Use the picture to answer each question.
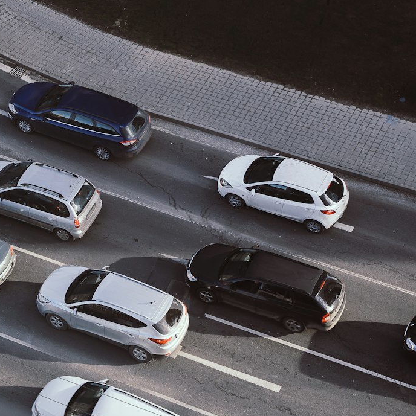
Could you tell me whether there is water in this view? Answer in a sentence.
No, the picture contains no water.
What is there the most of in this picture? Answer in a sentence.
Most of the picture is covered by paved ground.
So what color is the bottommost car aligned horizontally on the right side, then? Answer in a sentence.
From above, the bottommost car aligned horizontally on the right side appears black.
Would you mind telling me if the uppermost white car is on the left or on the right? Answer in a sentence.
The uppermost white car sits on the right side.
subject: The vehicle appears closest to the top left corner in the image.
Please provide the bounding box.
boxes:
[9,76,155,161]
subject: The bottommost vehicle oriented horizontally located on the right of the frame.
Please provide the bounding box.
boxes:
[189,240,353,333]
